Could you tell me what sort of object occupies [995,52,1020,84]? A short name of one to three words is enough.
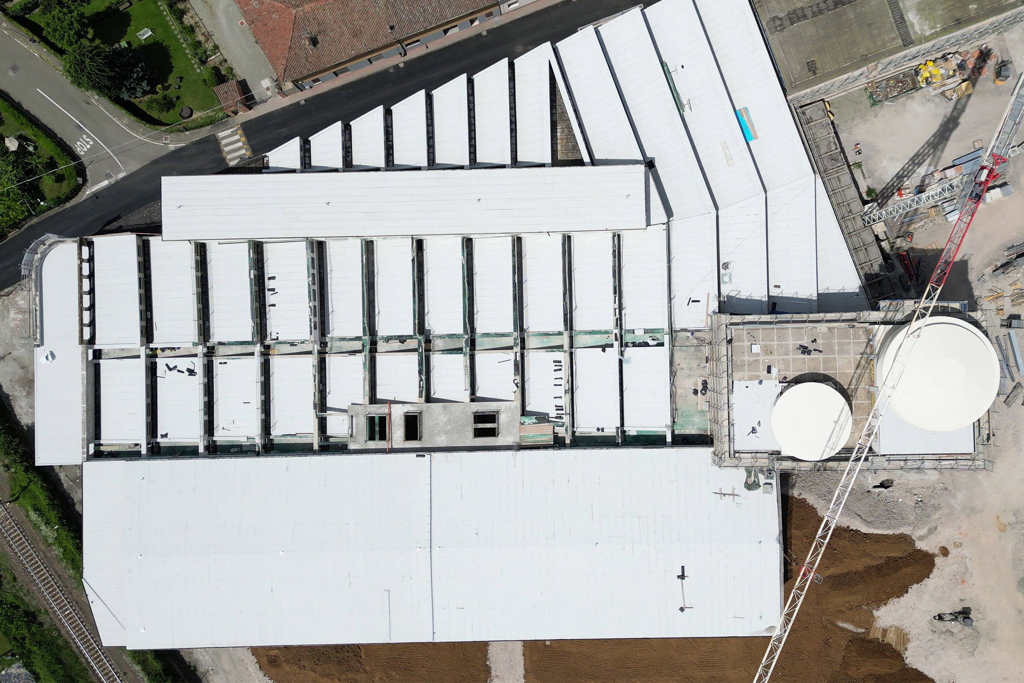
work vehicle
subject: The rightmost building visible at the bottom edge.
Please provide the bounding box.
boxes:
[81,445,780,652]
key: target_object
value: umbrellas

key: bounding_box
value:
[4,137,23,151]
